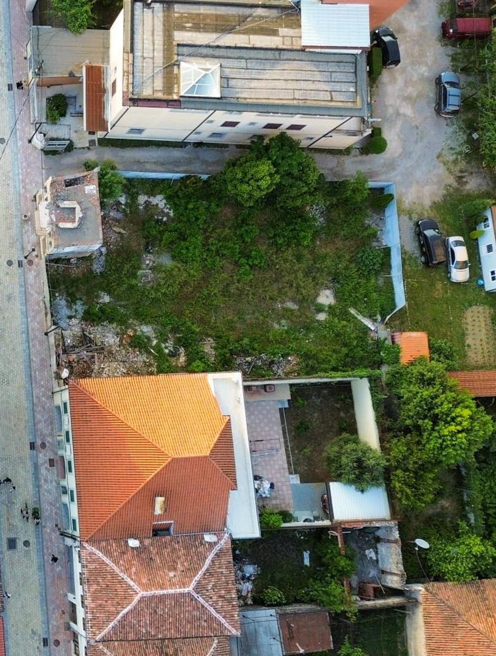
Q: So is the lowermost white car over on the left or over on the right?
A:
right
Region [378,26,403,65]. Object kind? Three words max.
car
